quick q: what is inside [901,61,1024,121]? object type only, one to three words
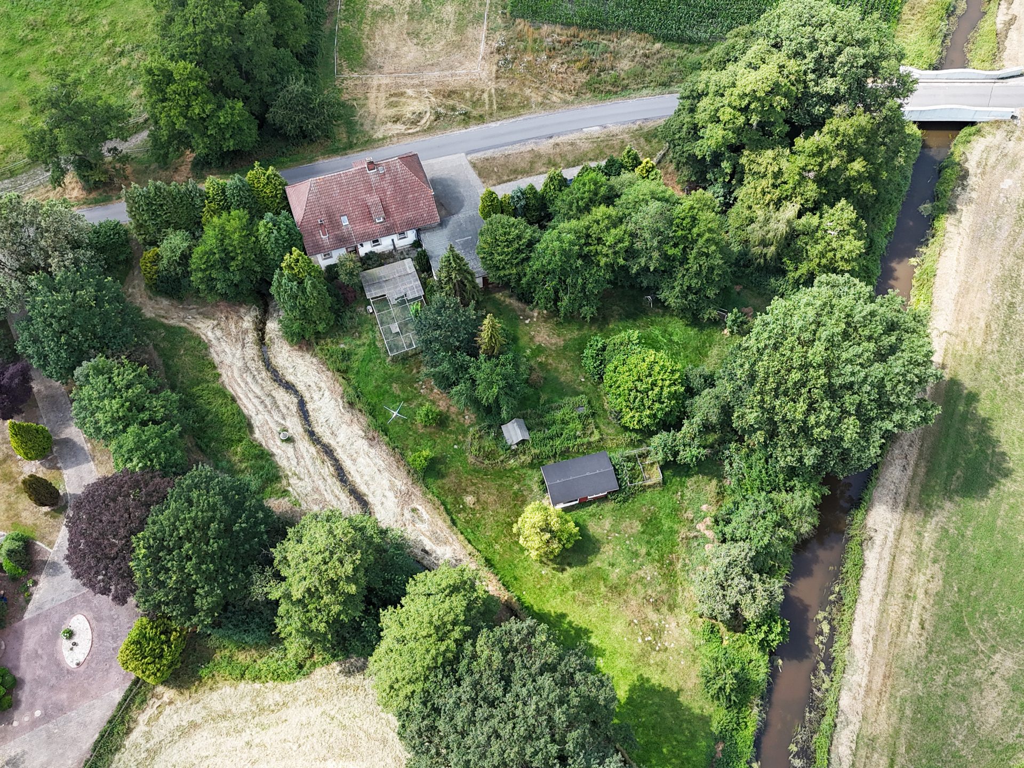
bridge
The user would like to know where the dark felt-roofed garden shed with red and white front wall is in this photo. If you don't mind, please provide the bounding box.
[541,451,619,510]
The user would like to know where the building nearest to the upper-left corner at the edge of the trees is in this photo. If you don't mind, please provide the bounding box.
[286,152,440,267]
